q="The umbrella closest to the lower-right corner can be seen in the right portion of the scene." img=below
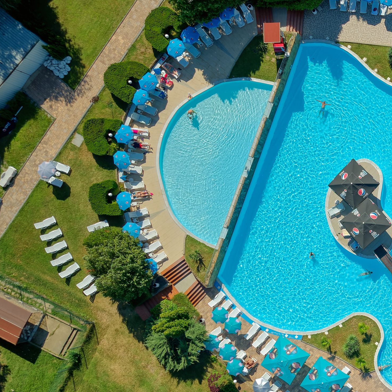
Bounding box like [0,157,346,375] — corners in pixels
[301,357,350,392]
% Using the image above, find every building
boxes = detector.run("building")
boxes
[0,291,52,345]
[0,11,61,118]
